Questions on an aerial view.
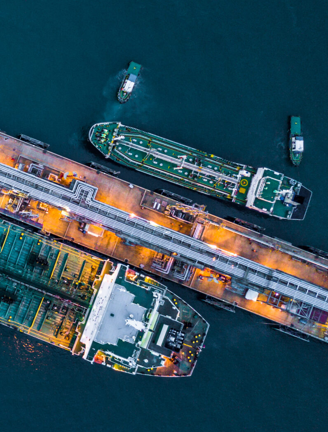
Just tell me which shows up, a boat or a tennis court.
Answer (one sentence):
It is a boat that can be seen here.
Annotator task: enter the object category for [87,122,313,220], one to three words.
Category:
ship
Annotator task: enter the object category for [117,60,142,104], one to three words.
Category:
boat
